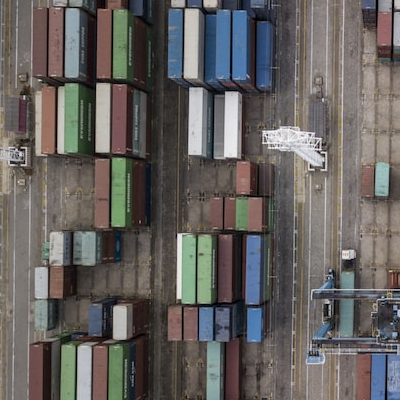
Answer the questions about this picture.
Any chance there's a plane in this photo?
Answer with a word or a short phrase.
No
